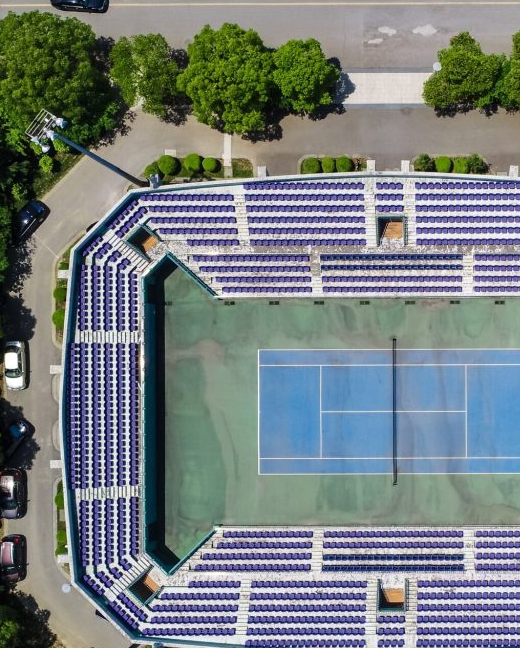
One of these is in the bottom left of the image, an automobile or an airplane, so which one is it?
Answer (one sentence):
There is an automobile in the bottom left of the image.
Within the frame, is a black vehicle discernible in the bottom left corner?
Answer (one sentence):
Yes, I can see a black vehicle in the bottom left corner.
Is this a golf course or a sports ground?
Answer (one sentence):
What you see here is a sports ground.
